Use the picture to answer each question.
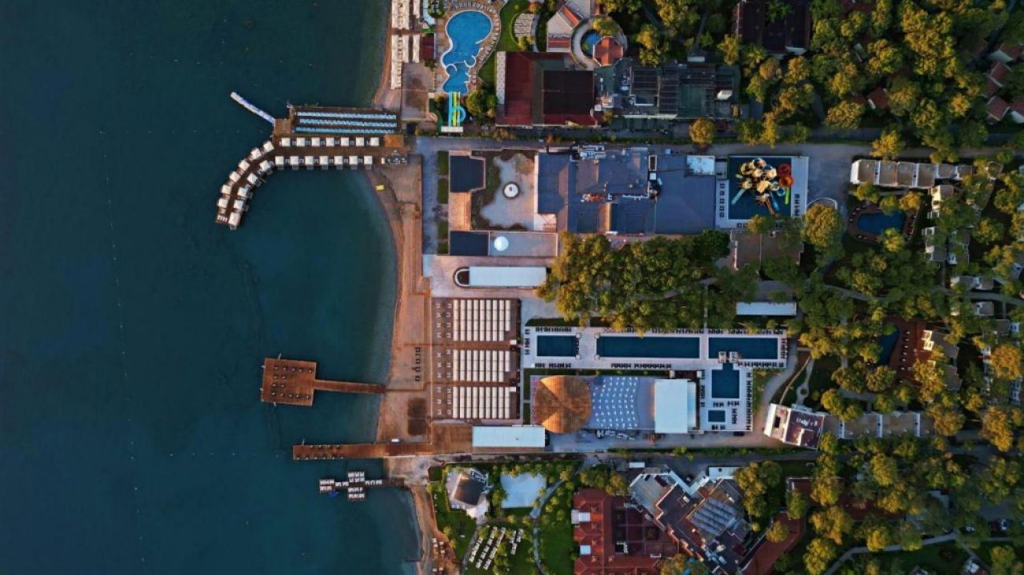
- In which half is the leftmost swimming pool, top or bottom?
top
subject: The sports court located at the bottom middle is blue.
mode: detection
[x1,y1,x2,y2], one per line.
[501,474,546,508]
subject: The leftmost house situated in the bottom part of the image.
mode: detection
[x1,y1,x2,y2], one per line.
[446,468,491,518]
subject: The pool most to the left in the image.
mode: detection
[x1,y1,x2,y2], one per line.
[440,9,493,93]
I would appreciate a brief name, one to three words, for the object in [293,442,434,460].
pier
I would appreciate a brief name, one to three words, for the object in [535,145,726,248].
building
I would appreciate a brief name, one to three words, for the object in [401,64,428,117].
sports court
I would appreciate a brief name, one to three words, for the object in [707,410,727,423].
swimming pool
